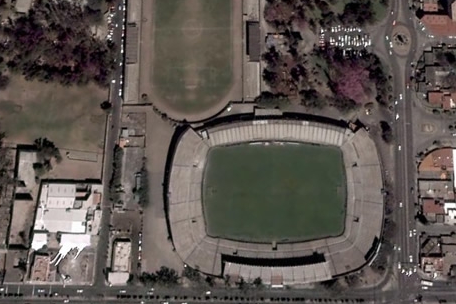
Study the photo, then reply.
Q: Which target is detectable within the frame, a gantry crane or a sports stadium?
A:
sports stadium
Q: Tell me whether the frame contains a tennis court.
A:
No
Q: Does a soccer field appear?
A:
Yes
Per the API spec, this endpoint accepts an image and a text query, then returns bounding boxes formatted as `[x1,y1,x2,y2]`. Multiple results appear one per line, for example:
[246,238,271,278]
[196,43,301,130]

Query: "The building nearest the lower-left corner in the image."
[30,255,49,281]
